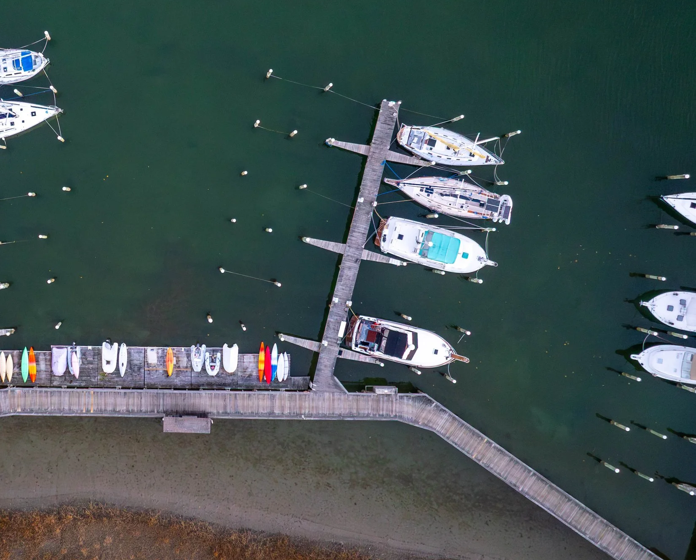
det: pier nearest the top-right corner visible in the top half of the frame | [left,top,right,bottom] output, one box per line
[387,150,429,166]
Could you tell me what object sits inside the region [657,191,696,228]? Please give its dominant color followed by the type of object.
white boat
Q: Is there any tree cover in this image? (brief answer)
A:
No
